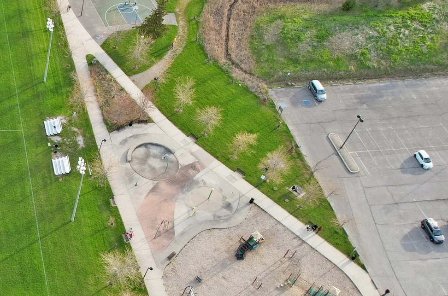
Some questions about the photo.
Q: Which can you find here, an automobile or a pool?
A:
automobile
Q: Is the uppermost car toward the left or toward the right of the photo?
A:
right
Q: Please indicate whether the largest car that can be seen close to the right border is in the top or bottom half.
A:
bottom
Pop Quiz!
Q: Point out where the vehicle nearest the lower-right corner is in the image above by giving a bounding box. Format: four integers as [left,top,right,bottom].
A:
[423,218,447,244]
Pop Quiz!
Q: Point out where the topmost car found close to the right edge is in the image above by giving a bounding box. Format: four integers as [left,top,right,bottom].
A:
[414,151,436,170]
